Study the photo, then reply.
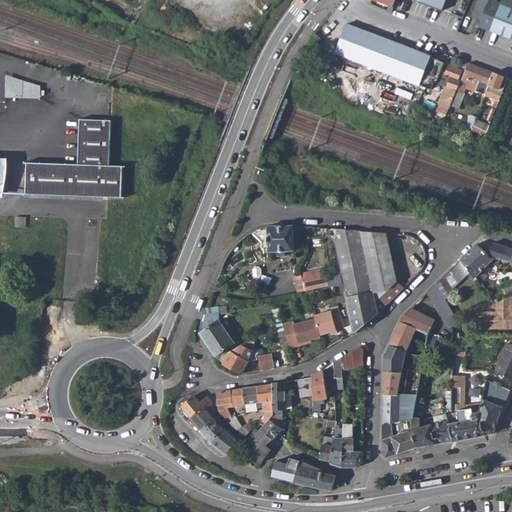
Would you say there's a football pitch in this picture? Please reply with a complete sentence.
No, this view has no football pitch in it.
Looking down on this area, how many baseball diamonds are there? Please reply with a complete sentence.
I count no baseball diamonds.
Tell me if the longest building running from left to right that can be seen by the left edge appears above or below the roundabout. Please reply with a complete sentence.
The position of the longest building running from left to right that can be seen by the left edge is above the roundabout.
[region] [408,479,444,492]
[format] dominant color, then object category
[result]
white vehicle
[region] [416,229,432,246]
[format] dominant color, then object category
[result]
white vehicle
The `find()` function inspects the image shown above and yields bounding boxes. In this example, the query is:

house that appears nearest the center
[266,225,293,253]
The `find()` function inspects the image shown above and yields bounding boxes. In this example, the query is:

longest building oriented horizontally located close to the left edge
[23,163,122,197]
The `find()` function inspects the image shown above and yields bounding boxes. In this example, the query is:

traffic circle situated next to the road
[47,338,163,453]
